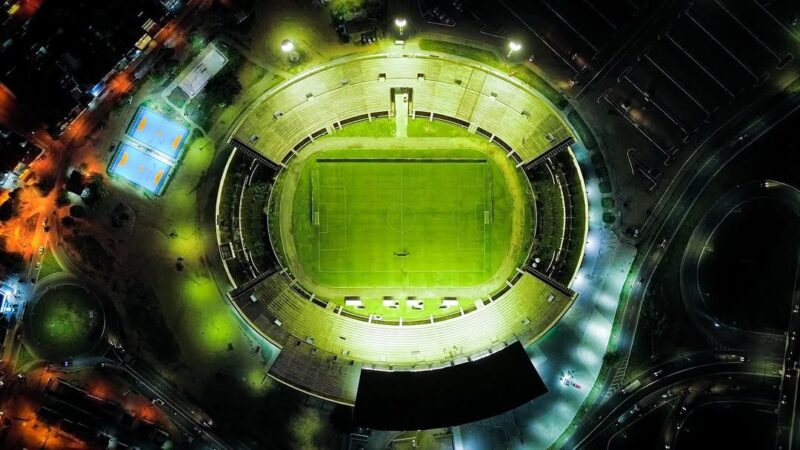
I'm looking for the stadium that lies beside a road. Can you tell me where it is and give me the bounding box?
[216,52,588,430]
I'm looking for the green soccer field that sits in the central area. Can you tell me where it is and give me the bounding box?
[314,157,489,281]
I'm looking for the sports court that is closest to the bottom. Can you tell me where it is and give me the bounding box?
[103,139,173,197]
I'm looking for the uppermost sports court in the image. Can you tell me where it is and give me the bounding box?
[122,105,192,161]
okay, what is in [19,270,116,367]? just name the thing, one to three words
roundabout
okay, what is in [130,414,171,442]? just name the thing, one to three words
shed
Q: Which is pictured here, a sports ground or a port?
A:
sports ground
